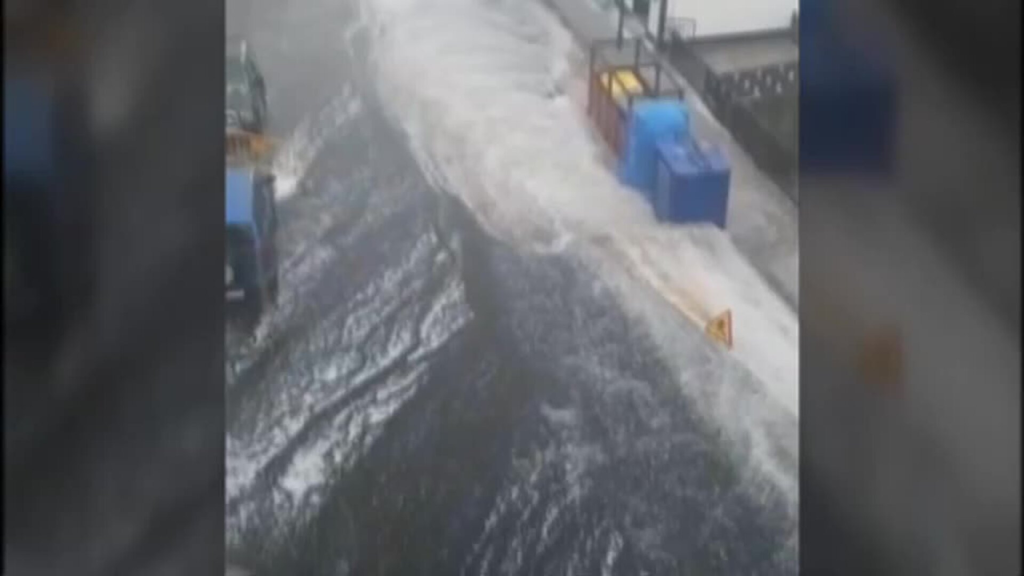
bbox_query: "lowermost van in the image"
[178,169,272,314]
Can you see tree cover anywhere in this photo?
No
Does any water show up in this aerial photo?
Yes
